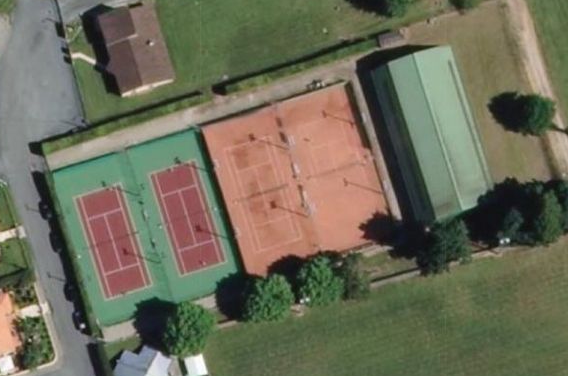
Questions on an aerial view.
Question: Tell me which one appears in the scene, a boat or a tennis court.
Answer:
tennis court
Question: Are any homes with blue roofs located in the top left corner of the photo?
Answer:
No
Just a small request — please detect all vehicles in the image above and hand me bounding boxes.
[40,202,51,221]
[51,233,63,253]
[65,284,77,304]
[74,311,86,331]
